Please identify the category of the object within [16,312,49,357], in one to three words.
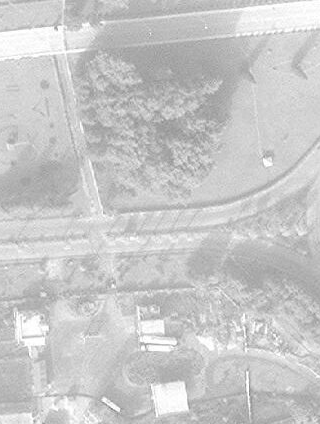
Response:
house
